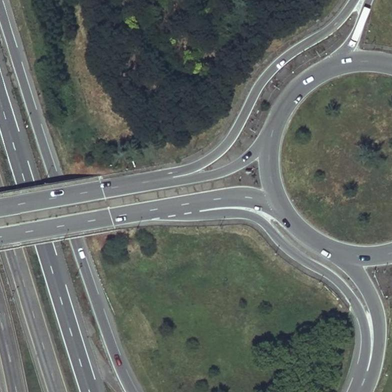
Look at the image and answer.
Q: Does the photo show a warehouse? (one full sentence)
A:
No, the picture doesn't show any warehouse.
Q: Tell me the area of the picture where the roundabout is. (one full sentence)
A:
The roundabout sits in the right section of the image.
